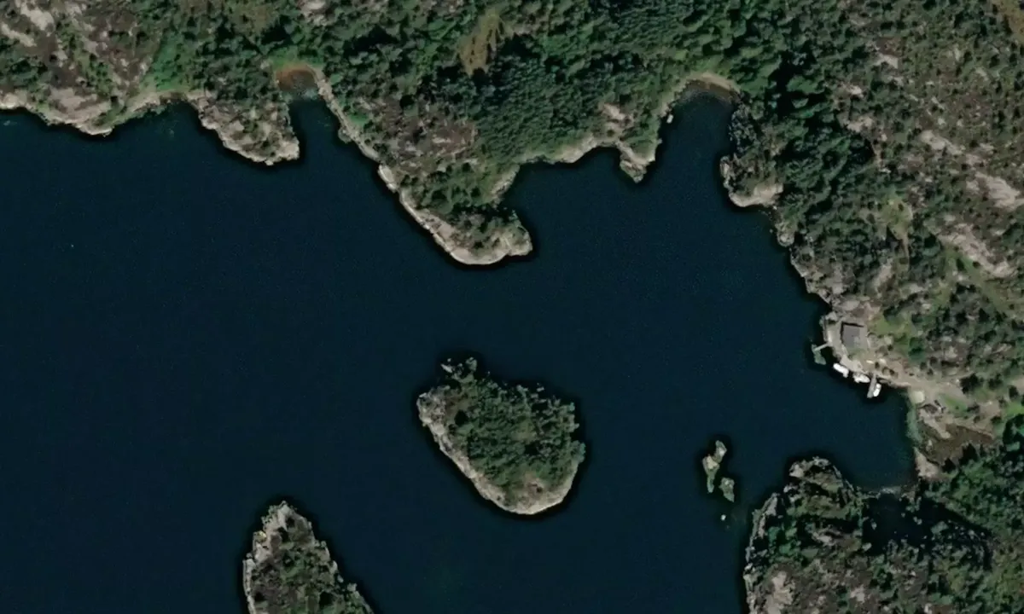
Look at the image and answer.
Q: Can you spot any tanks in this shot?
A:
No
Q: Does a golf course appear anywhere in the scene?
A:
No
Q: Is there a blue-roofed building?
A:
No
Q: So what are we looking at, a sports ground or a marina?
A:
marina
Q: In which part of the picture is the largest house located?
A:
right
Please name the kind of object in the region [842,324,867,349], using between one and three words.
house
